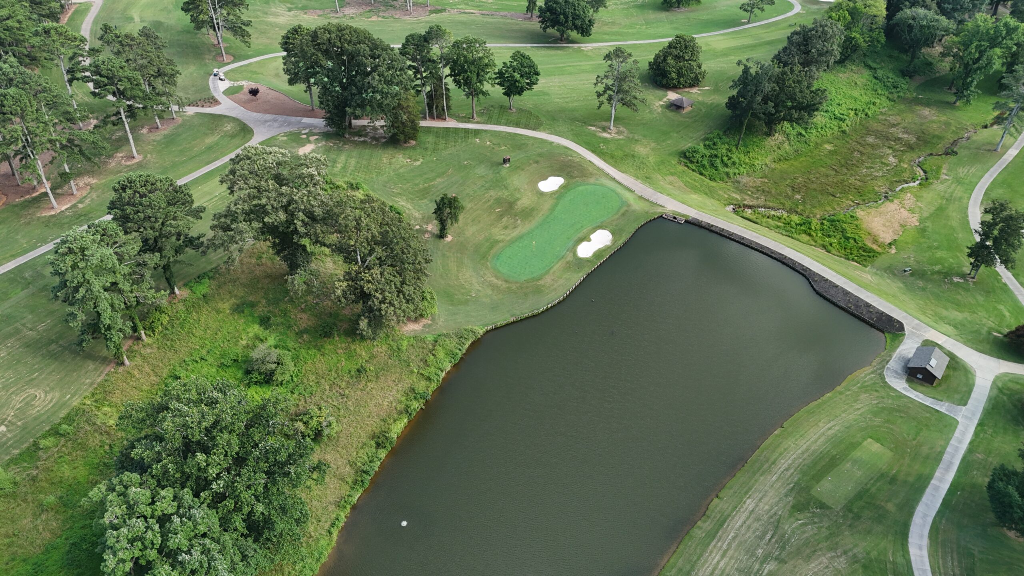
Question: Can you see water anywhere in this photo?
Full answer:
Yes, the picture does contain water.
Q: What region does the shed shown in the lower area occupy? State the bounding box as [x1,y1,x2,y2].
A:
[907,349,947,385]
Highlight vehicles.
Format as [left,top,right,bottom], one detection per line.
[217,72,226,82]
[212,68,218,77]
